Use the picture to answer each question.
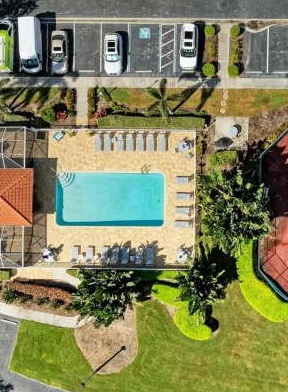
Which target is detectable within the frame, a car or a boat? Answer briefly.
car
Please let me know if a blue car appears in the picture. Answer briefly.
No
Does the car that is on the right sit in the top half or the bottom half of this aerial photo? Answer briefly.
top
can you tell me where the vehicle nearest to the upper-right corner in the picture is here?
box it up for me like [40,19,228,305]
[178,25,200,70]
